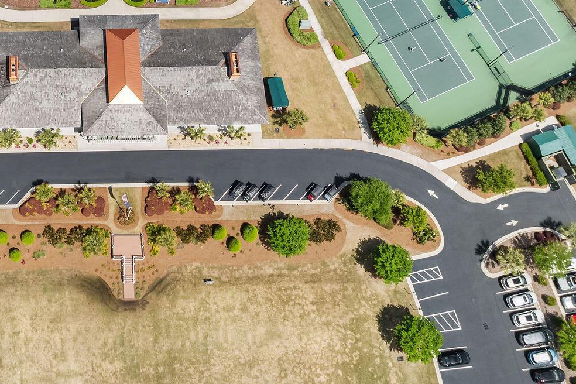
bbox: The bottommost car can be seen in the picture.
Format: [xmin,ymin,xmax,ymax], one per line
[533,366,567,383]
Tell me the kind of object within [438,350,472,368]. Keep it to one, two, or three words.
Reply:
car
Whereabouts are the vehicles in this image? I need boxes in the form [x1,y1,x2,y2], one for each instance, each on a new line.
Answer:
[512,309,546,327]
[438,350,472,368]
[241,183,260,201]
[306,183,324,203]
[533,366,567,383]
[229,180,247,199]
[500,273,533,289]
[520,328,554,345]
[549,258,576,275]
[527,348,561,366]
[321,183,341,203]
[562,294,576,309]
[506,292,539,309]
[555,274,576,290]
[259,183,277,201]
